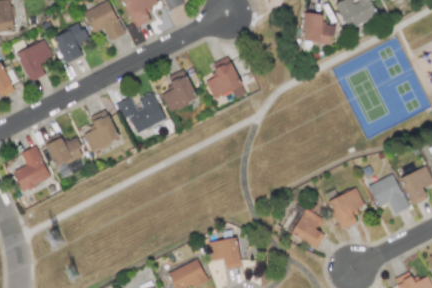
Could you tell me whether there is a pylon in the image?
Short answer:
Yes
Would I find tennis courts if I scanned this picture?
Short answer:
Yes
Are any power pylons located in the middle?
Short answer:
No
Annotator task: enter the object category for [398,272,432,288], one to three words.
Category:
house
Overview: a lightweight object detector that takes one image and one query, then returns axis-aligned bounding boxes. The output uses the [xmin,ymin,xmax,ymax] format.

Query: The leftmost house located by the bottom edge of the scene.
[171,259,210,288]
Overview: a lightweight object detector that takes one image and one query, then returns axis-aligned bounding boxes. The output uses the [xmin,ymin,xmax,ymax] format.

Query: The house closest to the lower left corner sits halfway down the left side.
[15,146,50,191]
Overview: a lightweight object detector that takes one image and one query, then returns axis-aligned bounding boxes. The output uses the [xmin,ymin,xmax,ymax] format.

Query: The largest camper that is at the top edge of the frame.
[324,6,336,24]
